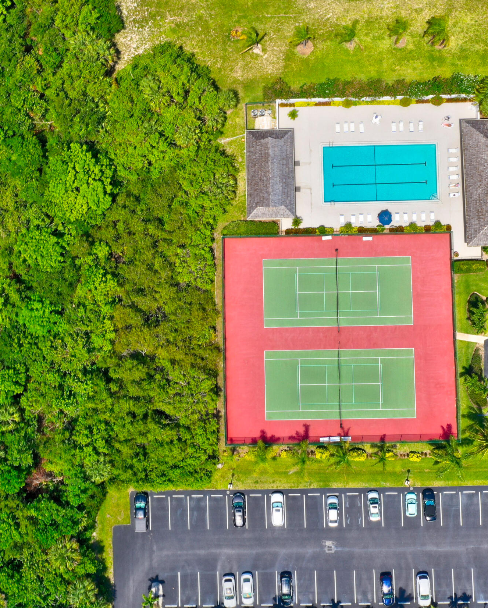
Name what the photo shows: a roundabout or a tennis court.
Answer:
tennis court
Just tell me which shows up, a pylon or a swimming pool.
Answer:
swimming pool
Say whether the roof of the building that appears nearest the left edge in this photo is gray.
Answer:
Yes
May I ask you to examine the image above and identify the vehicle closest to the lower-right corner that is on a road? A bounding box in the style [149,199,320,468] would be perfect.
[416,571,431,606]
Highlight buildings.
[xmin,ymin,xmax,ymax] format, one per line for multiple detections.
[461,119,488,246]
[245,128,295,220]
